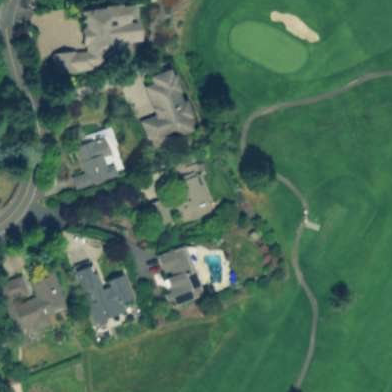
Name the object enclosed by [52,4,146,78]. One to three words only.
house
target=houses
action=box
[4,273,66,336]
[176,176,210,225]
[71,125,128,188]
[138,66,199,148]
[52,4,146,78]
[72,260,136,328]
[157,245,205,304]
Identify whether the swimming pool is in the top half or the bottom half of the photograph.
bottom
